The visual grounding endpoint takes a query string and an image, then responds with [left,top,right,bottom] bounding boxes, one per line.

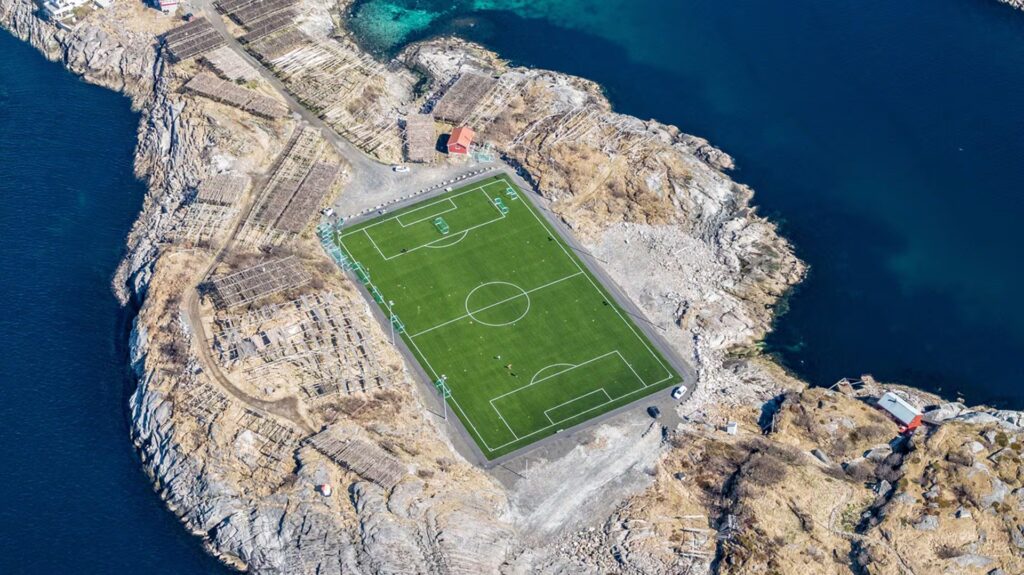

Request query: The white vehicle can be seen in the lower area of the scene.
[674,385,687,398]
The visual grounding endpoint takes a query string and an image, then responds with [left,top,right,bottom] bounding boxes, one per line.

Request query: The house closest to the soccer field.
[448,127,473,155]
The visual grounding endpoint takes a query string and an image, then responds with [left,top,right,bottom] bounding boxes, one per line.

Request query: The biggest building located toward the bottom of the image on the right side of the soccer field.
[878,393,924,433]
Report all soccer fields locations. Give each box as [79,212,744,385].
[328,173,683,460]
